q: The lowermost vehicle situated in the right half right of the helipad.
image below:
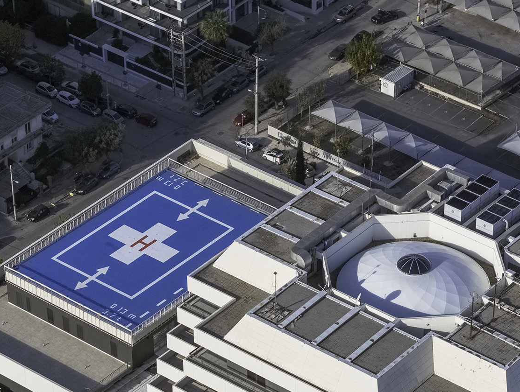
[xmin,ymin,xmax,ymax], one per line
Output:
[306,168,323,183]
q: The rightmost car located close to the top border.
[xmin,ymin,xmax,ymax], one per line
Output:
[369,10,400,26]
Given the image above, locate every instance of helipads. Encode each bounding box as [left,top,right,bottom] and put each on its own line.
[10,164,276,344]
